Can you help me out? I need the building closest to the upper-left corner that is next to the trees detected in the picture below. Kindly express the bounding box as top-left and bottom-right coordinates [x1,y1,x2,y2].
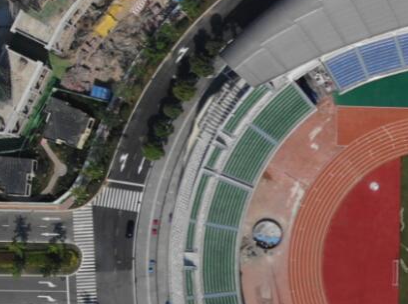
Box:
[43,97,105,151]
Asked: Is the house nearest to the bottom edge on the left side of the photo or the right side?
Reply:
left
